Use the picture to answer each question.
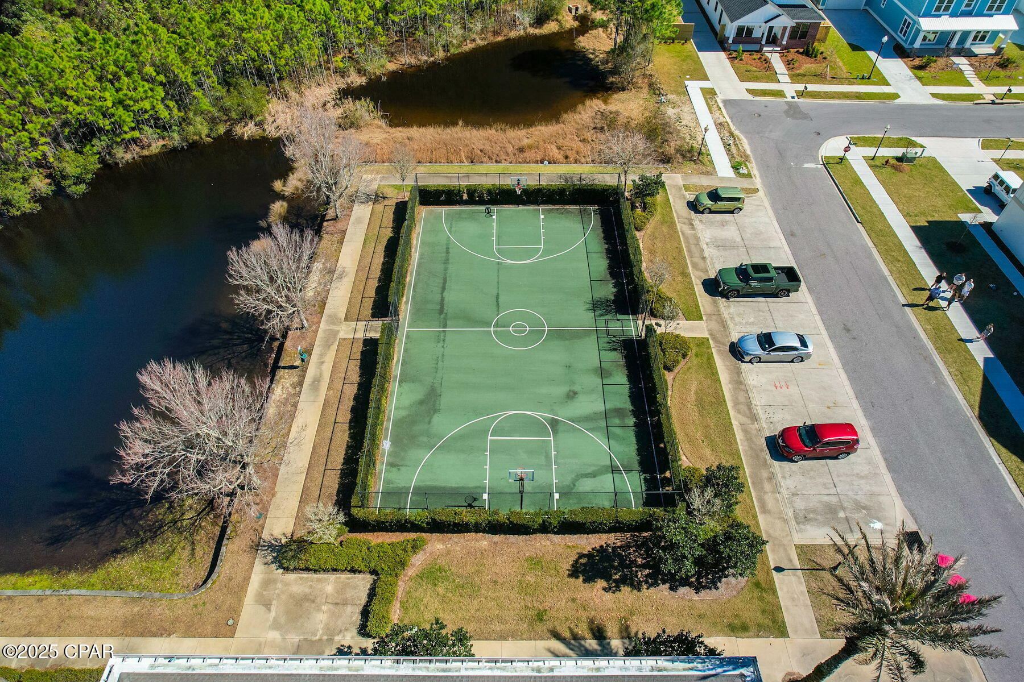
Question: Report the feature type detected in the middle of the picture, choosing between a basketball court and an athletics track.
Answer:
basketball court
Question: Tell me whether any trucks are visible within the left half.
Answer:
No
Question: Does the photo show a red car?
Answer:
Yes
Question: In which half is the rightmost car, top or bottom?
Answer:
top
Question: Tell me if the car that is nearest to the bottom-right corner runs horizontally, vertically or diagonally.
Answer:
horizontally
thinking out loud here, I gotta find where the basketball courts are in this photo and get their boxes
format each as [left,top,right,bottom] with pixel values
[370,204,671,512]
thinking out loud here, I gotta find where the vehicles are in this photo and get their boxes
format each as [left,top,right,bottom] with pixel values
[716,266,806,302]
[736,329,817,362]
[694,188,748,215]
[775,420,865,461]
[988,172,1024,209]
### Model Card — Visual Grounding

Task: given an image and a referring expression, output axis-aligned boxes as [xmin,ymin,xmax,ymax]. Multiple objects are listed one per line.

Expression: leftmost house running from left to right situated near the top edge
[705,0,827,52]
